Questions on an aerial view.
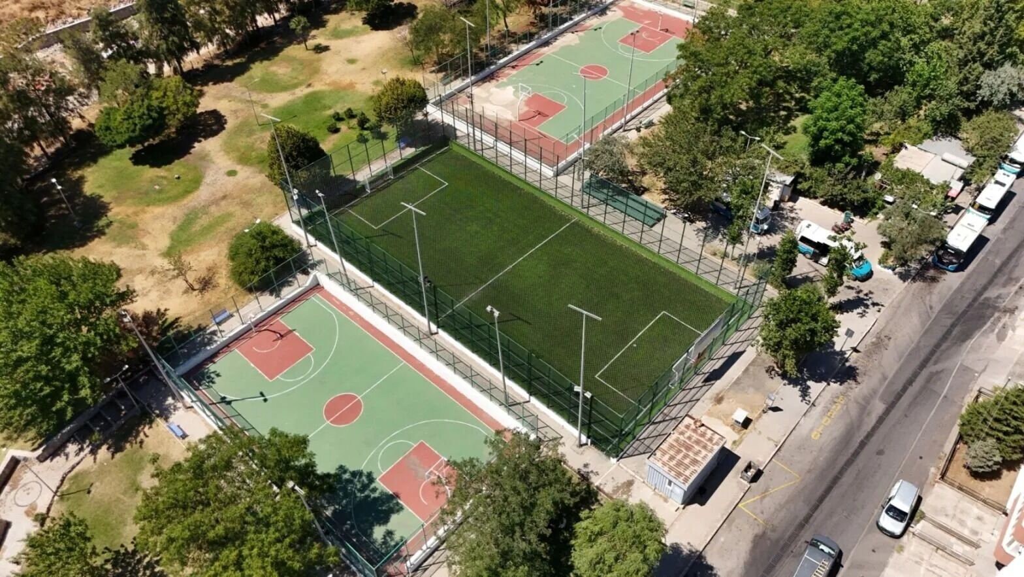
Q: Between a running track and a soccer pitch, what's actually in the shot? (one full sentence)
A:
This aerial view contains a soccer pitch.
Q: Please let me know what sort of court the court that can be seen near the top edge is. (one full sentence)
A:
It looks like the court that can be seen near the top edge is a basketball court.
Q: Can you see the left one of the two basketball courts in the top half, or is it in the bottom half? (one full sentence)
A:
The left one of the two basketball courts is in the bottom half of the image.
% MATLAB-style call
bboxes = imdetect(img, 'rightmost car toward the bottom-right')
[876,477,928,536]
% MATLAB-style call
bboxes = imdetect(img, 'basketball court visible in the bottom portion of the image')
[191,284,530,577]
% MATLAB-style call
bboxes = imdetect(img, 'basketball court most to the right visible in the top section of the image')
[435,2,707,167]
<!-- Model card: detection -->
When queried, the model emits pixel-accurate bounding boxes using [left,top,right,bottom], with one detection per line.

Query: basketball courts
[191,284,530,577]
[435,2,707,167]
